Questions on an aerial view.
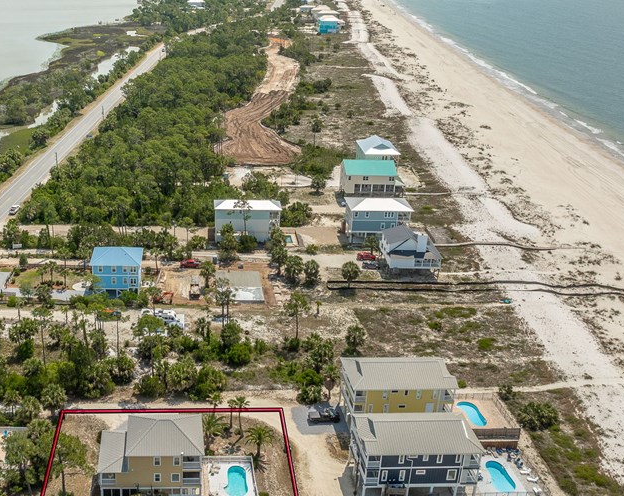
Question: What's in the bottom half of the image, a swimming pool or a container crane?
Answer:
swimming pool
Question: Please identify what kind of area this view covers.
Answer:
residential area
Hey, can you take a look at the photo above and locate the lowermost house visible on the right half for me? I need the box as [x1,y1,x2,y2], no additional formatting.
[346,409,489,496]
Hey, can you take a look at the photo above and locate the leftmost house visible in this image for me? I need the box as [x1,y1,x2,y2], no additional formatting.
[89,246,142,296]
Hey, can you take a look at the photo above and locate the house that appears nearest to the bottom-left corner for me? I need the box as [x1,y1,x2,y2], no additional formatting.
[97,413,206,496]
